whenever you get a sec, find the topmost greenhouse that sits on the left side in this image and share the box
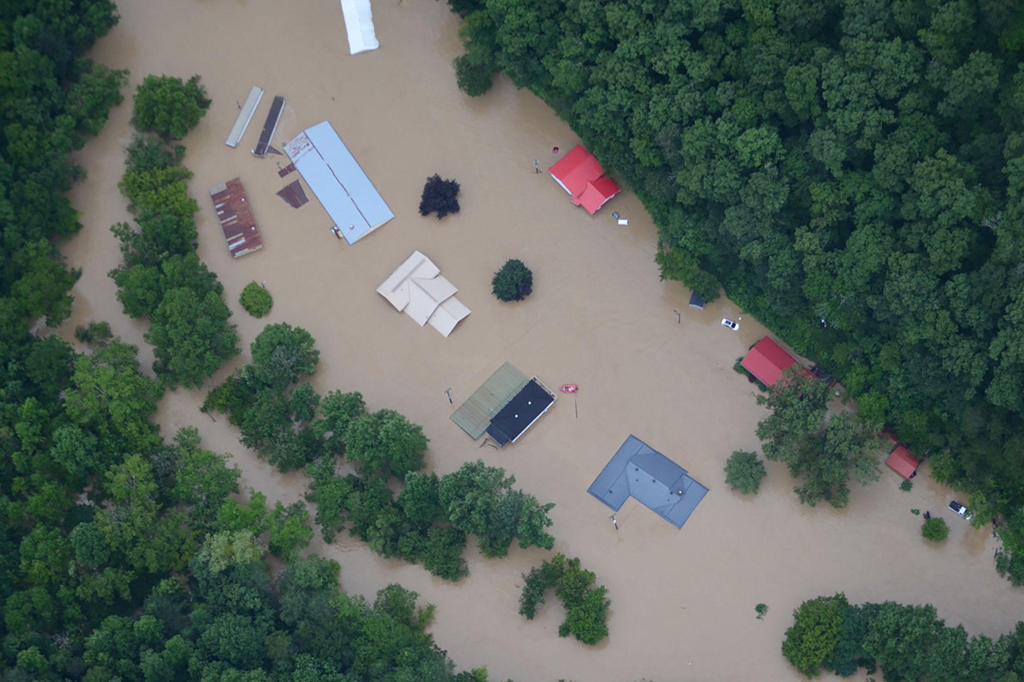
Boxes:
[342,0,378,54]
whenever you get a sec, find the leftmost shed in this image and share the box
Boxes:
[210,177,263,258]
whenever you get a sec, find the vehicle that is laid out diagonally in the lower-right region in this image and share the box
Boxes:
[945,498,972,522]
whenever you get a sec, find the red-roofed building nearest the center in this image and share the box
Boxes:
[548,144,621,215]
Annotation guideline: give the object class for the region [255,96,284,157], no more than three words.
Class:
trailer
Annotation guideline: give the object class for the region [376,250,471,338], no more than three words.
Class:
house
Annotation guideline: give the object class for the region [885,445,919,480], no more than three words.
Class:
building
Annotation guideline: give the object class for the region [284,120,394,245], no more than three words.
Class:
barn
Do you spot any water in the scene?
Yes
